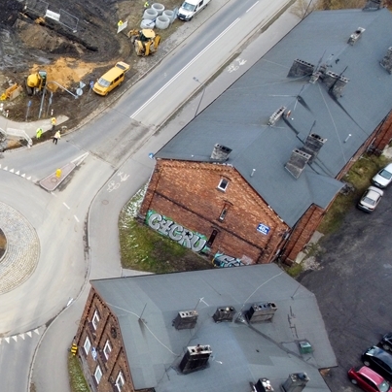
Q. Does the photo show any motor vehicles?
Yes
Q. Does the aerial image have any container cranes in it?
No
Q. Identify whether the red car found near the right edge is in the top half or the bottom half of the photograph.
bottom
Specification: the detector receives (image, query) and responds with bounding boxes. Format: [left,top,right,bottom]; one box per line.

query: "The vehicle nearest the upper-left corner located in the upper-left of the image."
[25,63,51,102]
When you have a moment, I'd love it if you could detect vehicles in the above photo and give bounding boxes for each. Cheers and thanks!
[350,364,392,392]
[371,163,392,189]
[25,63,51,102]
[182,0,210,17]
[94,58,133,94]
[130,25,157,61]
[356,183,388,214]
[360,342,392,383]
